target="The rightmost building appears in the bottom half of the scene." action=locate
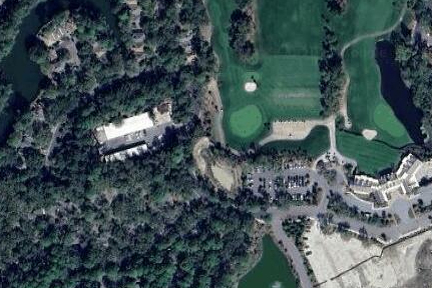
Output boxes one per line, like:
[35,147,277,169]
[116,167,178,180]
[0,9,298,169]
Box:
[349,151,425,203]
